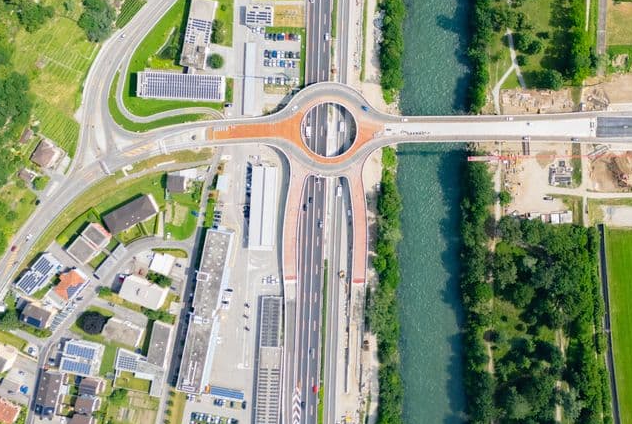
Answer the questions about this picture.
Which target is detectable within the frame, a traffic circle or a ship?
traffic circle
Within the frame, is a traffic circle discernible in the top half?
Yes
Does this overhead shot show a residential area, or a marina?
residential area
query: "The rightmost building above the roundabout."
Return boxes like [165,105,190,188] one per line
[246,4,275,28]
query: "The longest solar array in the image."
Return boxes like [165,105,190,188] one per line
[141,74,221,98]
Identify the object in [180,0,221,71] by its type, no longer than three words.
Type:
building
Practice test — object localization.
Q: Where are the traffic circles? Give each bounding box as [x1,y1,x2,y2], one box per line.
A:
[139,82,419,186]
